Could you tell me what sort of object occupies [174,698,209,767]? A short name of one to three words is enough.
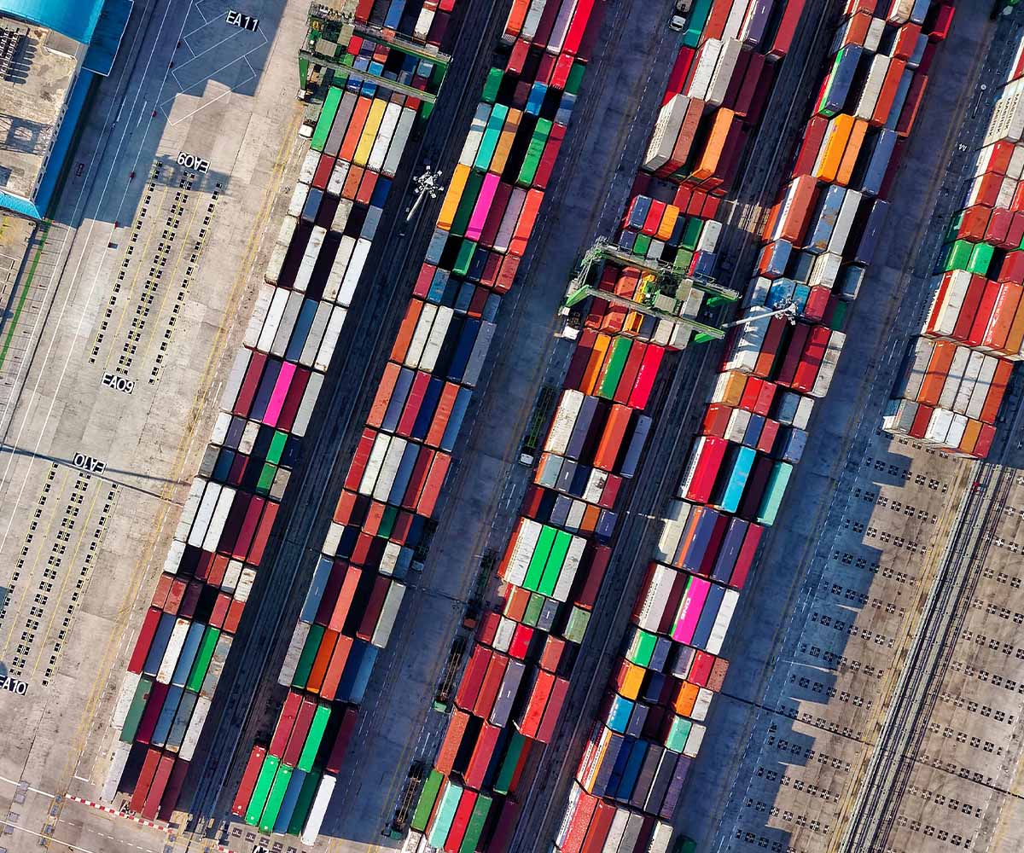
shipping container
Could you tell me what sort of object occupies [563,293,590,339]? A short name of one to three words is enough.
truck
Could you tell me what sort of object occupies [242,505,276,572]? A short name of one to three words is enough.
shipping container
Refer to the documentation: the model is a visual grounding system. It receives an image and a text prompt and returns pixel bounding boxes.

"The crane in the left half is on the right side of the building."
[288,1,461,138]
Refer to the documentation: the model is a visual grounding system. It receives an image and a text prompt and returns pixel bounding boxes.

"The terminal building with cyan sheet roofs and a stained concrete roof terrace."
[0,0,135,220]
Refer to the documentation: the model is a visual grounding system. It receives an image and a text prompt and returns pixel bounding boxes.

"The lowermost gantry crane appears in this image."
[555,236,751,352]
